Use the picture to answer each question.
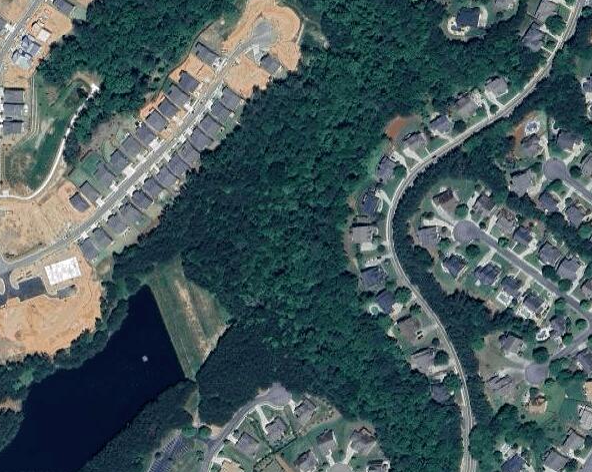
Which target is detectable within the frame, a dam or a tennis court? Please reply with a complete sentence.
Looking from above, you can make out a dam.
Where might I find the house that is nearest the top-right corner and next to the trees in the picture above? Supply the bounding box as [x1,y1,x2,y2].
[535,0,561,21]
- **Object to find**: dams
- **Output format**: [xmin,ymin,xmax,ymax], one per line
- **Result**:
[148,273,203,377]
